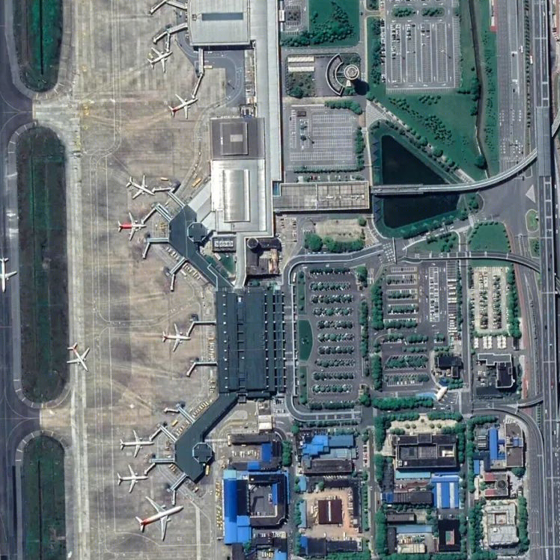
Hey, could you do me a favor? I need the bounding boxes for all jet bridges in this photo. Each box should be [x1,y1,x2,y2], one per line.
[151,24,188,52]
[170,259,186,293]
[149,0,188,14]
[163,405,195,423]
[142,237,167,260]
[185,362,216,377]
[190,47,203,99]
[142,459,174,476]
[140,203,172,225]
[148,424,176,443]
[170,476,187,507]
[185,322,216,338]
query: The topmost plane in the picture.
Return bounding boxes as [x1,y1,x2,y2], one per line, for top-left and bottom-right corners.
[147,47,172,69]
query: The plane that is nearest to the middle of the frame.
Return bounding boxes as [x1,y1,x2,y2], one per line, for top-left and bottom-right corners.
[162,324,190,351]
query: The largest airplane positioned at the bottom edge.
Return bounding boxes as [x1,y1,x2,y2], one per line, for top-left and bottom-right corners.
[134,498,184,542]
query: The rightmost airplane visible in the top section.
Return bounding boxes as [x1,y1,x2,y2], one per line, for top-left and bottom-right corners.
[169,95,197,116]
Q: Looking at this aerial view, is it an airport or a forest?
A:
airport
